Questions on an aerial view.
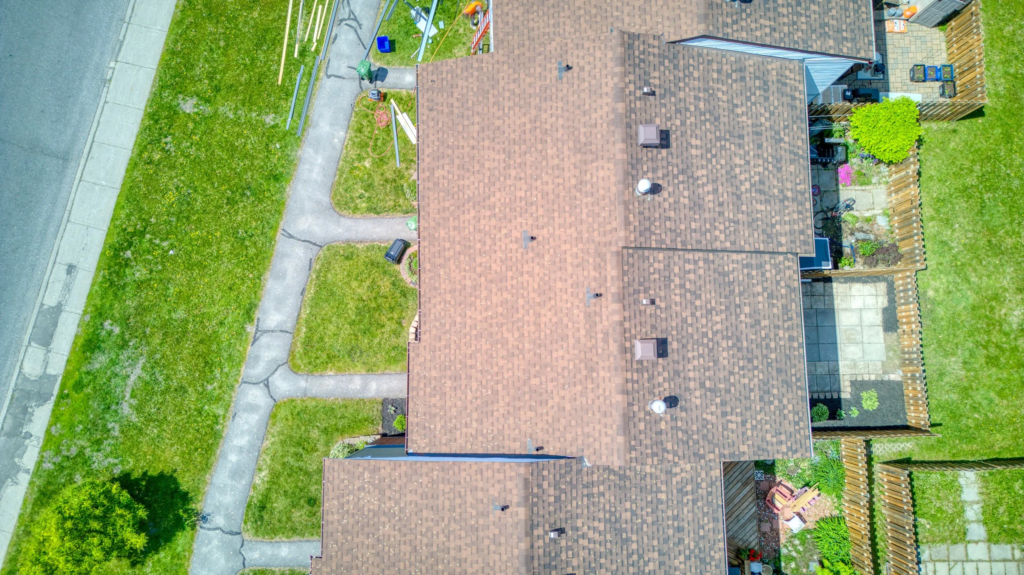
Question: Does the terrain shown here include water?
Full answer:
No, the scene doesn't show any water.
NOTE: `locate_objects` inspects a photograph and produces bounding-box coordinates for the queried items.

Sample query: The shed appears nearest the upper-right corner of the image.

[909,0,977,31]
